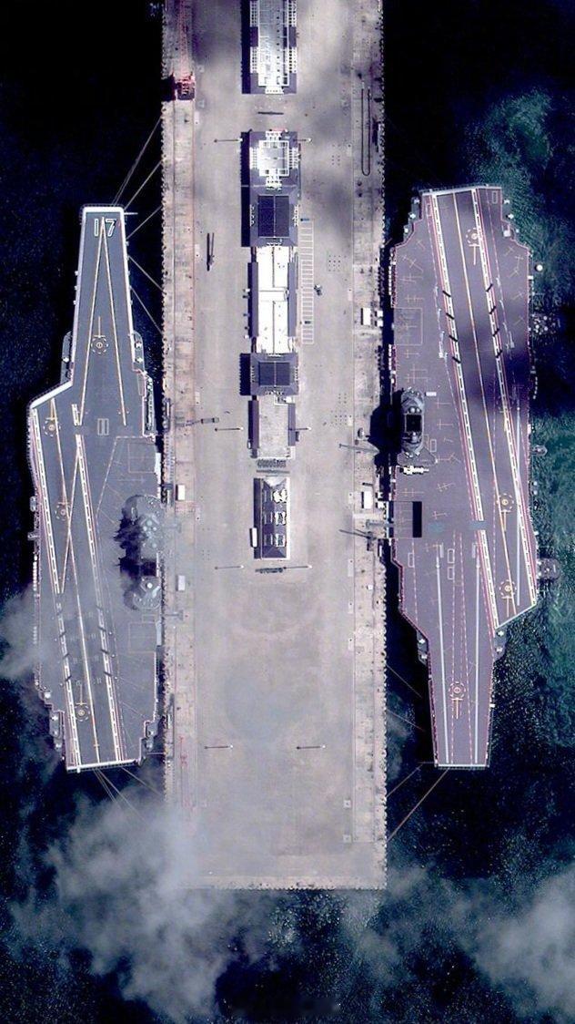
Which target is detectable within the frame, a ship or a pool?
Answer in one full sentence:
I can see a ship in this picture.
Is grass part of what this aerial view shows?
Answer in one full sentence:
No, grass can't be seen anywhere here.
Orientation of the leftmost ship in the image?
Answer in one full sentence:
I'd say the leftmost ship is aligned from top to bottom in the picture.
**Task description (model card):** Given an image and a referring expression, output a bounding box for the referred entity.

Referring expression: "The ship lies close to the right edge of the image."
[389,183,559,769]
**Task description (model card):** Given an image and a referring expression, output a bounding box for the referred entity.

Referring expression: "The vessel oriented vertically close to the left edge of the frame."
[28,203,164,773]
